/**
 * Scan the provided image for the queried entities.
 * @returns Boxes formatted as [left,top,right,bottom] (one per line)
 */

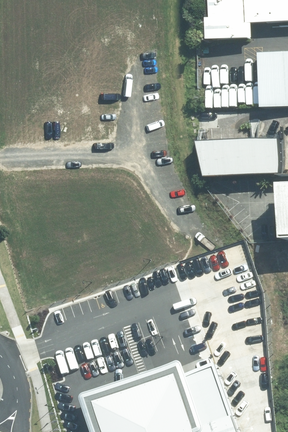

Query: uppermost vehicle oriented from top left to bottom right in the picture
[194,232,216,250]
